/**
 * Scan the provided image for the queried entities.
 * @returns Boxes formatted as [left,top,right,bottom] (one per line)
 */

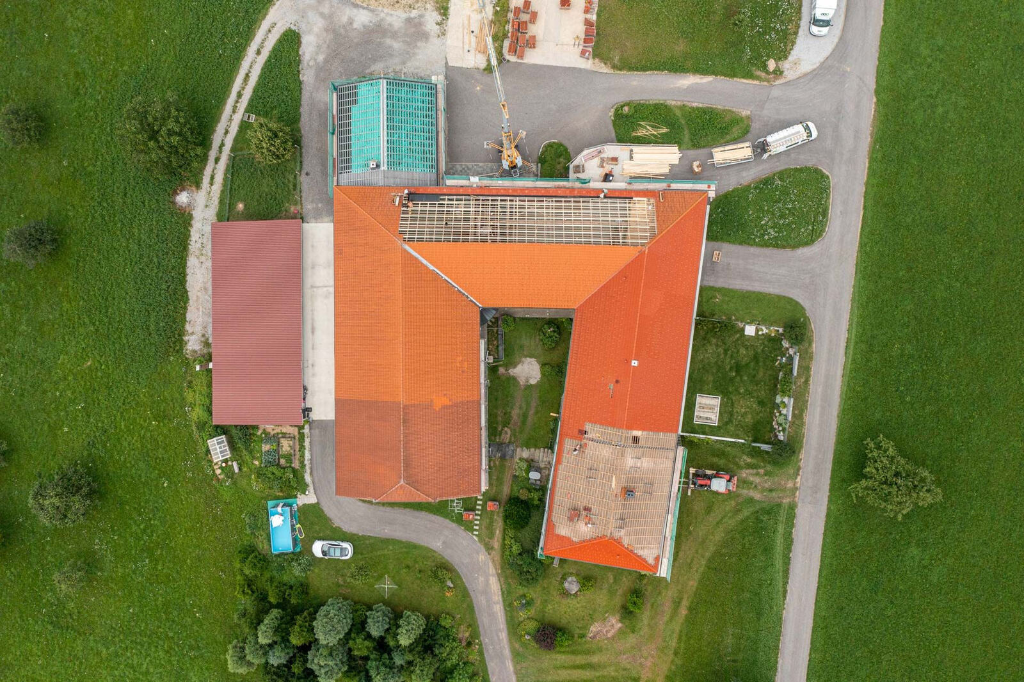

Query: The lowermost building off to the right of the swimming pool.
[332,184,712,575]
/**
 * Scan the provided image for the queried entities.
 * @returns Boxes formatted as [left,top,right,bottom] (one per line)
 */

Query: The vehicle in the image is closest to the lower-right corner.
[695,471,736,493]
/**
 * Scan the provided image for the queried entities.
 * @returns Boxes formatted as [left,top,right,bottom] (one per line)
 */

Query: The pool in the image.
[269,503,296,552]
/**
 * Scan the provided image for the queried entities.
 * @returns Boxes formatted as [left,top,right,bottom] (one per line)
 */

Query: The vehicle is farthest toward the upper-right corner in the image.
[809,0,839,40]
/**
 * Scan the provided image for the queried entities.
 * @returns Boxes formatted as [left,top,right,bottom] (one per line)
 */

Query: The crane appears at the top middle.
[478,0,537,178]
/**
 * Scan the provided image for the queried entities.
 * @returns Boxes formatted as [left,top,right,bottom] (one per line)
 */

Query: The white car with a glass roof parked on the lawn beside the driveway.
[313,540,353,561]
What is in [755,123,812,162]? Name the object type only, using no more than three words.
van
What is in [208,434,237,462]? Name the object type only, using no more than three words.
greenhouse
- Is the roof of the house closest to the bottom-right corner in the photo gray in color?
No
